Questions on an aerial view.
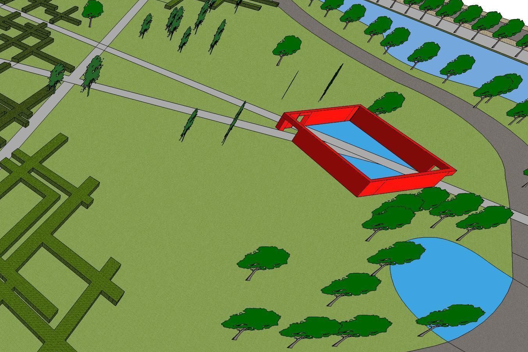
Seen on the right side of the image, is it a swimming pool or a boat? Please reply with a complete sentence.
It is a swimming pool that can be seen on the right side of the image.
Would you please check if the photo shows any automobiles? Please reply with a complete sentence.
No, the frame has no automobile in it.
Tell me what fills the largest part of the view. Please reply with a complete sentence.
For the most part, this view shows grass.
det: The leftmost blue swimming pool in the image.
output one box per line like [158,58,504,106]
[284,121,414,178]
